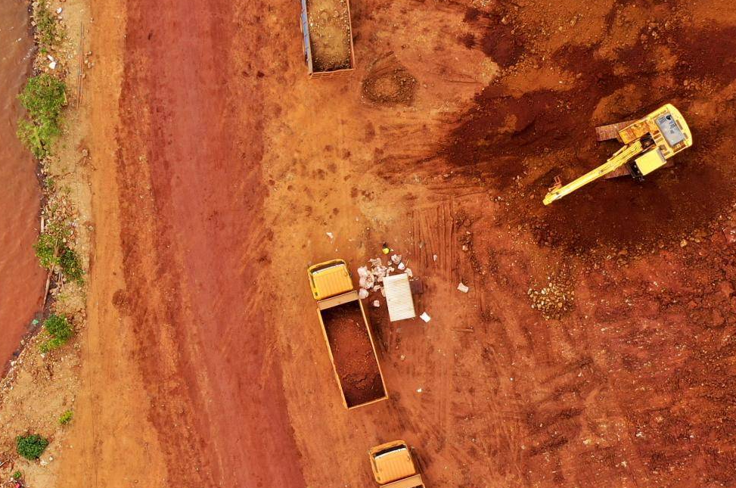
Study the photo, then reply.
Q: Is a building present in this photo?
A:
No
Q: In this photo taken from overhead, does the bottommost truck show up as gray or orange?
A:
orange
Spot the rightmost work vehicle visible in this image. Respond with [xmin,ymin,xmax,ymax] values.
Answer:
[538,104,691,203]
